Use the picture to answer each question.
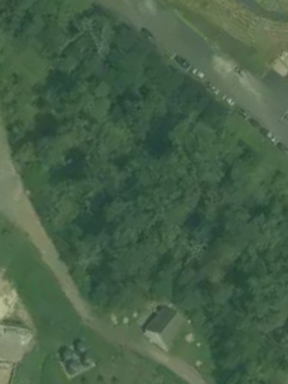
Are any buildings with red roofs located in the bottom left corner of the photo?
No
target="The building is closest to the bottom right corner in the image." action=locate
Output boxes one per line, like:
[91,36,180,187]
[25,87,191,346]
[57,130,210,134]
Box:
[144,305,186,350]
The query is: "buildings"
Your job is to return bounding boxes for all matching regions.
[0,326,33,361]
[144,305,186,350]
